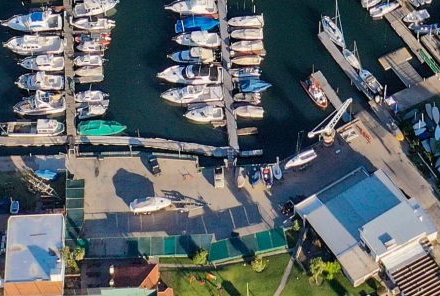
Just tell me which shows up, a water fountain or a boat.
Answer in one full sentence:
This aerial view contains a boat.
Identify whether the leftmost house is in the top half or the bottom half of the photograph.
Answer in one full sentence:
Seen from above, the leftmost house lies in the bottom half of the view.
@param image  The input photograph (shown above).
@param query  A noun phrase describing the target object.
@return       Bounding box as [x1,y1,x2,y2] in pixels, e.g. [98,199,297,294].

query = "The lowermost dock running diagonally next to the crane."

[305,70,345,115]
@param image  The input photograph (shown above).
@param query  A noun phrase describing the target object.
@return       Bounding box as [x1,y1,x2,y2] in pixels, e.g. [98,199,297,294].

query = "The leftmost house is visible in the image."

[3,212,67,296]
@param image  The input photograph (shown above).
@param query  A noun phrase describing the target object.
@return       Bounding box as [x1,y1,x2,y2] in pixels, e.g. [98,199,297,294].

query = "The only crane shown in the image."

[304,99,352,146]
